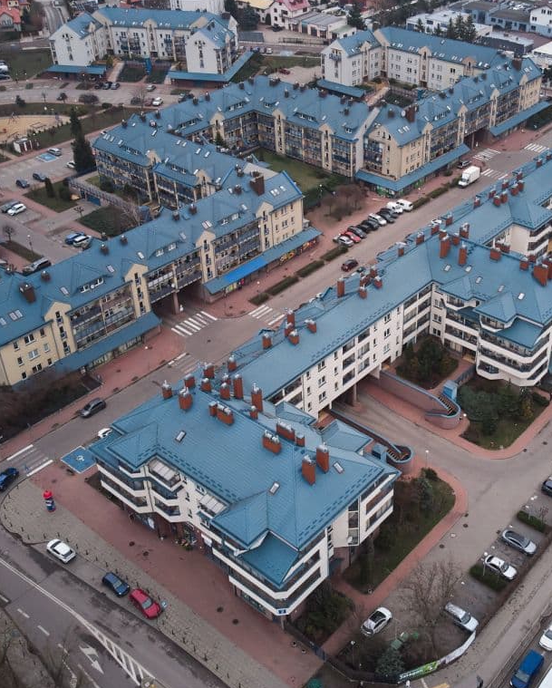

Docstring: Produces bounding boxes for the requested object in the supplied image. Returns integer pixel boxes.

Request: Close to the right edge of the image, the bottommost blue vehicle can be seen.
[510,650,542,688]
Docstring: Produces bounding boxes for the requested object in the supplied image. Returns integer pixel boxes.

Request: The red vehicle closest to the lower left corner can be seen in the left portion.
[127,587,163,618]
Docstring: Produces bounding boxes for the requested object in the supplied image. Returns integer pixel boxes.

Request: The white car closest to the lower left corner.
[45,537,77,564]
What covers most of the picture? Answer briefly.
buildings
